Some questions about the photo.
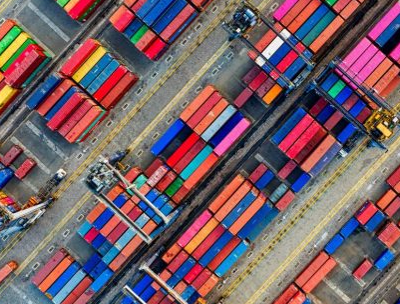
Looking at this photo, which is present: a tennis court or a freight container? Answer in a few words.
freight container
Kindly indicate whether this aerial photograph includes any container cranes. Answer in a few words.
Yes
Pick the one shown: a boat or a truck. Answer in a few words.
truck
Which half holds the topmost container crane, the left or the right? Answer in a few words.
right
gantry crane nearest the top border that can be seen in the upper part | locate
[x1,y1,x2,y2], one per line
[221,0,320,94]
